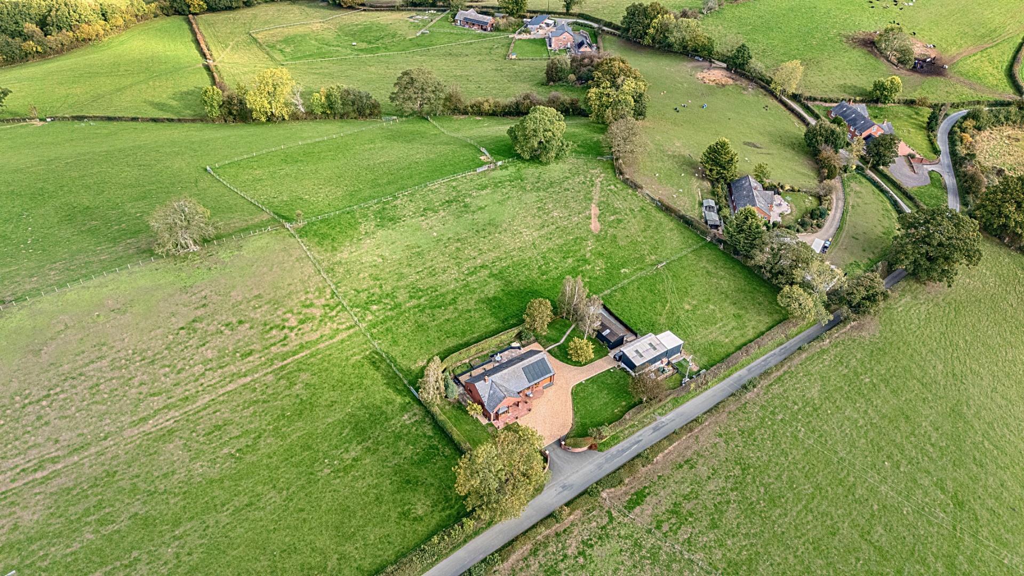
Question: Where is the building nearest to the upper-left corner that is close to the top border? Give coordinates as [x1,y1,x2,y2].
[455,12,494,31]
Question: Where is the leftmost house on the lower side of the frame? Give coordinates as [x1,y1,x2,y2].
[464,351,556,419]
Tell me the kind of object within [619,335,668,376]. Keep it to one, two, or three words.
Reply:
shed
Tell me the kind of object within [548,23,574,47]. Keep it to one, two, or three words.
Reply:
house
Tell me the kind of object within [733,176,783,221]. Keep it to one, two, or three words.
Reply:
house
